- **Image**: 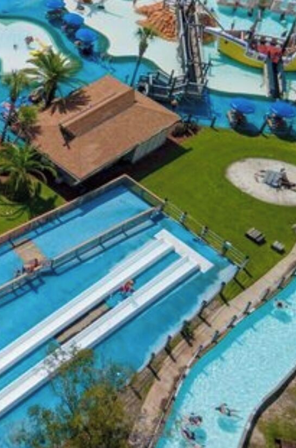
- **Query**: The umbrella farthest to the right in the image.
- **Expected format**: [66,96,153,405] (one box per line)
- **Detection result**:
[266,101,296,130]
